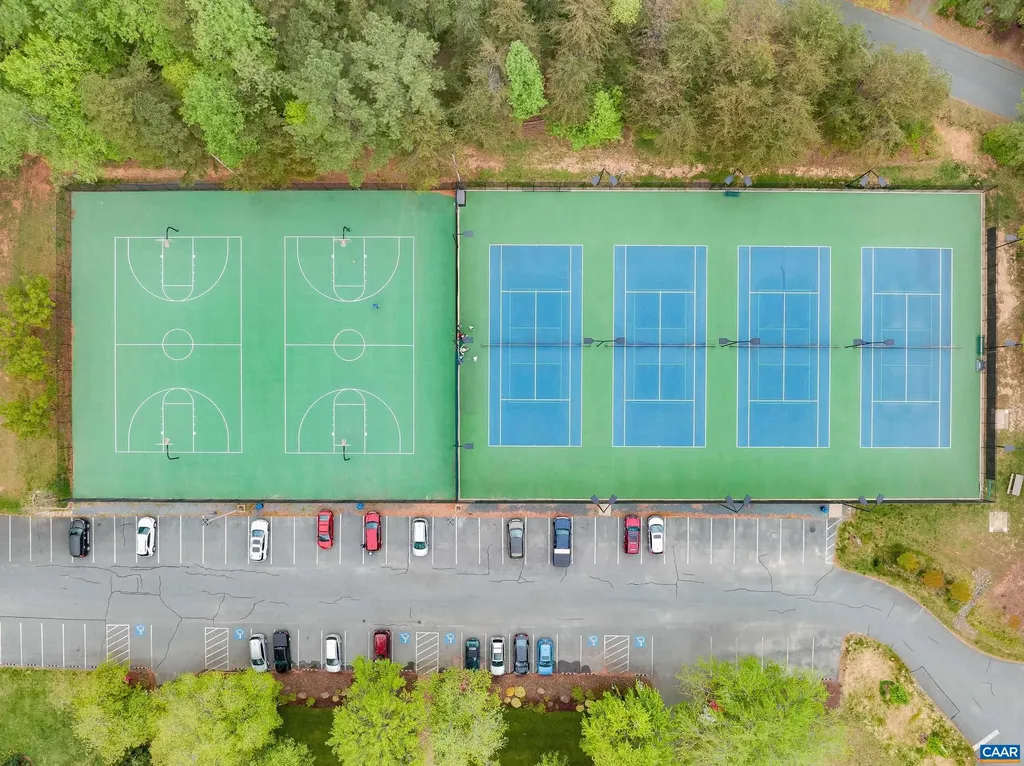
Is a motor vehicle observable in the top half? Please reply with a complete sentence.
No, looking in the top half, there is no motor vehicle.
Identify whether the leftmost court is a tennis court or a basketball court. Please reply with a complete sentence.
It looks like the leftmost court is a basketball court.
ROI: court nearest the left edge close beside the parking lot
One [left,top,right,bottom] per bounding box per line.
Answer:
[115,237,242,454]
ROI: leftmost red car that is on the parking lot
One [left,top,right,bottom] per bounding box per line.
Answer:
[315,509,333,550]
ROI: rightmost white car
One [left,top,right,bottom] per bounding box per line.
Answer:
[648,515,667,556]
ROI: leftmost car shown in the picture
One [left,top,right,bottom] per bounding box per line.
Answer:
[67,518,89,559]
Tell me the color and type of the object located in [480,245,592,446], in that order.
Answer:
blue tennis court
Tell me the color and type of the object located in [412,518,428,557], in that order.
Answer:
white car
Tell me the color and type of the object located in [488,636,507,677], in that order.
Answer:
white car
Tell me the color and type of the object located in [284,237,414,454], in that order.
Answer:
green basketball court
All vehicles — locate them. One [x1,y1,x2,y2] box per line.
[512,634,531,676]
[372,633,391,675]
[315,509,333,550]
[553,517,573,569]
[270,630,290,675]
[67,518,89,559]
[463,639,481,678]
[135,517,156,558]
[364,511,382,552]
[412,518,428,557]
[537,638,555,678]
[507,519,525,559]
[248,633,268,673]
[648,515,667,556]
[248,520,269,563]
[488,636,507,677]
[624,515,643,556]
[323,634,342,674]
